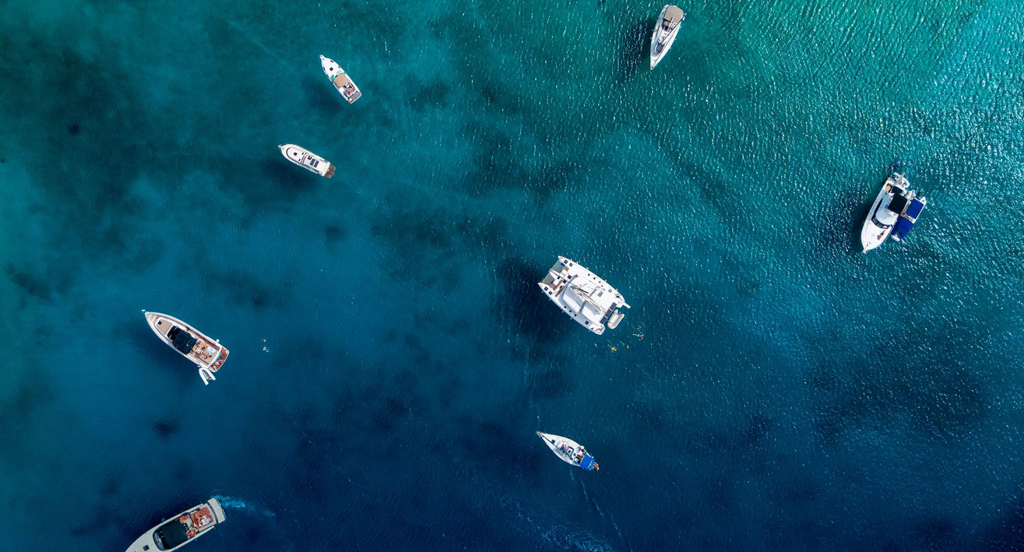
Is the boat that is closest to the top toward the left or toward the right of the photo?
right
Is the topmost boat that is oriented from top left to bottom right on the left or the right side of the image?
left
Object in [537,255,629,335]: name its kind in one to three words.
boat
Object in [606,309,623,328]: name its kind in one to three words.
boat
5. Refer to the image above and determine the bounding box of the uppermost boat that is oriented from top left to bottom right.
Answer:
[319,54,362,105]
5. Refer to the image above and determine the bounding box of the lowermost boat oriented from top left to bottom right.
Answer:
[536,430,598,469]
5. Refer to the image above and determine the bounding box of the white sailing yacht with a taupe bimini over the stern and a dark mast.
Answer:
[651,3,686,70]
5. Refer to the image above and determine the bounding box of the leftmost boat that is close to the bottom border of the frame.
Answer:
[125,497,227,552]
